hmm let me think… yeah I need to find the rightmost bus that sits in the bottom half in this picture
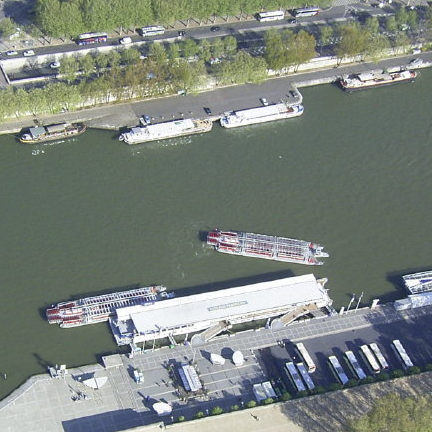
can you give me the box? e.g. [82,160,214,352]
[390,340,414,372]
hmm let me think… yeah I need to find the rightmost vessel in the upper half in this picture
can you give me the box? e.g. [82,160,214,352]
[337,69,417,91]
